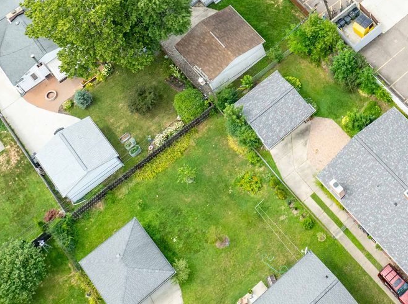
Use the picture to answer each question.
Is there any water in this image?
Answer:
No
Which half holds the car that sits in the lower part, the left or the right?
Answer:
right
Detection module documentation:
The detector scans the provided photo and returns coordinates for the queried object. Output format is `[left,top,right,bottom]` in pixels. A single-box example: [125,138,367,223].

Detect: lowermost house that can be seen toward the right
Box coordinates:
[259,250,364,304]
